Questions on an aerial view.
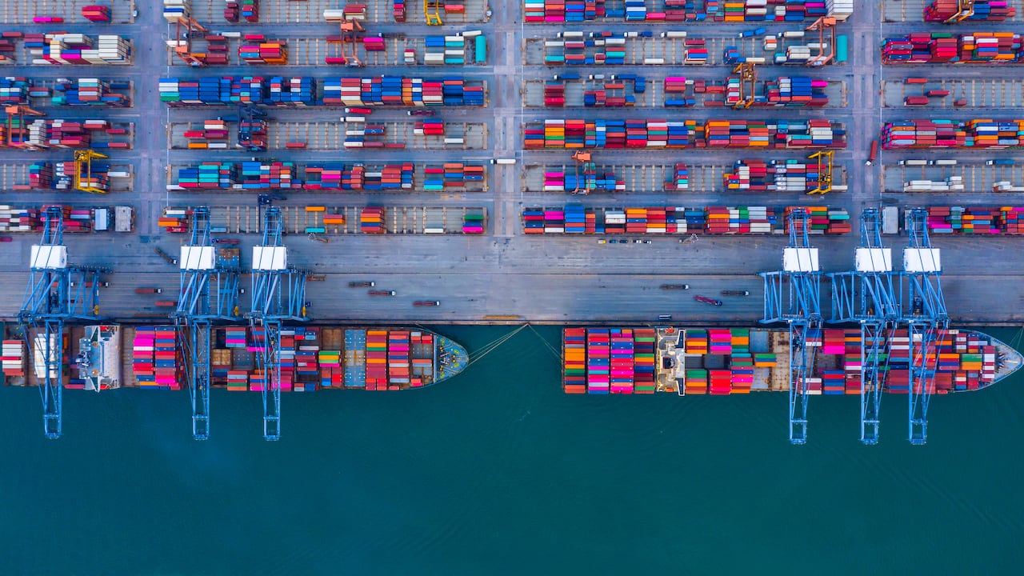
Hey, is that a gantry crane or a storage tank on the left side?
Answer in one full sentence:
There is a gantry crane on the left side.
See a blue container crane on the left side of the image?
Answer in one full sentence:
Yes, looking on the left side of the image, one can make out a blue container crane.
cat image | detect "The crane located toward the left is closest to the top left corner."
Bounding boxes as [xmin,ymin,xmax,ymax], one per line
[6,106,44,151]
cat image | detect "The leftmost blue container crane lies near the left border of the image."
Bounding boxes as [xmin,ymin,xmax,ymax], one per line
[17,204,108,439]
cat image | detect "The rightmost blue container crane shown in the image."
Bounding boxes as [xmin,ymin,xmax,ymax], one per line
[882,207,950,445]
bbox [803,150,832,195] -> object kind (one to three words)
container crane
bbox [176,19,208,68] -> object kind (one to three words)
container crane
